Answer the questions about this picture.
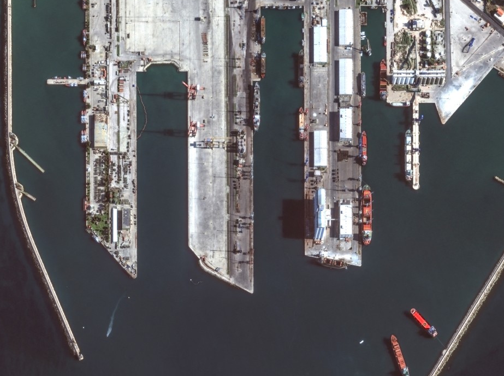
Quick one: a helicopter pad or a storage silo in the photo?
storage silo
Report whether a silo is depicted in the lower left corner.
No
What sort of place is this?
port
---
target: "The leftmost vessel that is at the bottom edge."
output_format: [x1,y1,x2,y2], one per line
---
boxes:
[390,334,409,376]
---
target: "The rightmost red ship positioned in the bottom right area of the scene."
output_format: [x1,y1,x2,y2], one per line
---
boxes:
[411,308,444,345]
